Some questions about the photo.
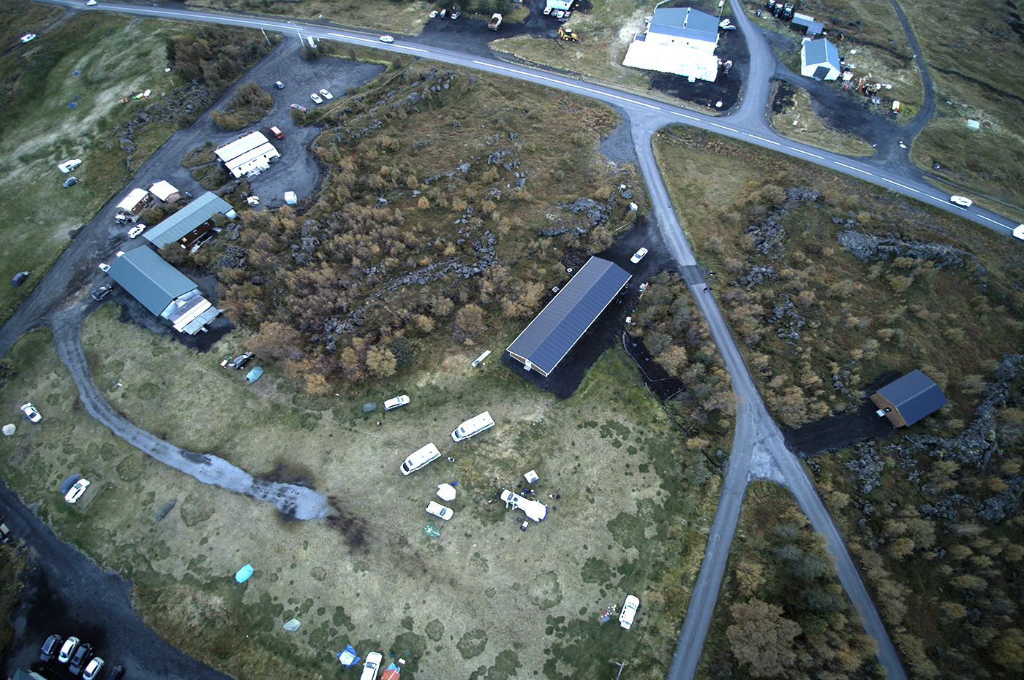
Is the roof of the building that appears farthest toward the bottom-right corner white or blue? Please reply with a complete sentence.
The color of the roof of the building that appears farthest toward the bottom-right corner is blue.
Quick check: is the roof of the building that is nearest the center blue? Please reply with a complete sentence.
Yes, the roof of the building that is nearest the center is indeed blue.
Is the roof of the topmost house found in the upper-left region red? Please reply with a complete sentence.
No, from above the roof of the topmost house found in the upper-left region looks white.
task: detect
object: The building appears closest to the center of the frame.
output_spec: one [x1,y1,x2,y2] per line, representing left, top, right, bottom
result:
[506,256,631,381]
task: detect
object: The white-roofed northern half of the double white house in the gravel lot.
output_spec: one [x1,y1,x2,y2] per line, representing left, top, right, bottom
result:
[214,130,284,179]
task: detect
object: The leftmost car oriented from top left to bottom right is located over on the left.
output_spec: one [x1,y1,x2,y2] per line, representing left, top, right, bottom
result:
[15,394,43,426]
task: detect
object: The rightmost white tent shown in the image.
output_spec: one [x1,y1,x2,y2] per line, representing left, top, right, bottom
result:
[522,497,548,523]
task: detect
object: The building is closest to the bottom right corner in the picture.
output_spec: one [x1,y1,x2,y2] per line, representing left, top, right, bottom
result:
[874,369,950,430]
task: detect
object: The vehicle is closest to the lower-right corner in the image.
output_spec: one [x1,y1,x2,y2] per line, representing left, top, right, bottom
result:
[619,592,640,631]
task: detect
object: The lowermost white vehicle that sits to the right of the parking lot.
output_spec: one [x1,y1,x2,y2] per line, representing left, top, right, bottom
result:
[361,652,381,680]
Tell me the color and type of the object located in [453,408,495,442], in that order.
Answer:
white camper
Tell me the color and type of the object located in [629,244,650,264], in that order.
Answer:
white car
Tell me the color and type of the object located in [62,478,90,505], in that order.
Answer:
white car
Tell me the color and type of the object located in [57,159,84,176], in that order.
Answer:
white camper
